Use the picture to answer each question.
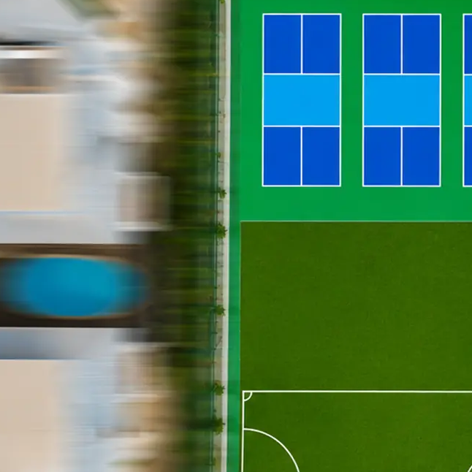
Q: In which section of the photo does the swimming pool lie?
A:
left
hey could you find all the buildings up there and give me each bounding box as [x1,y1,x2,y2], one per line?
[0,328,150,472]
[0,0,150,244]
